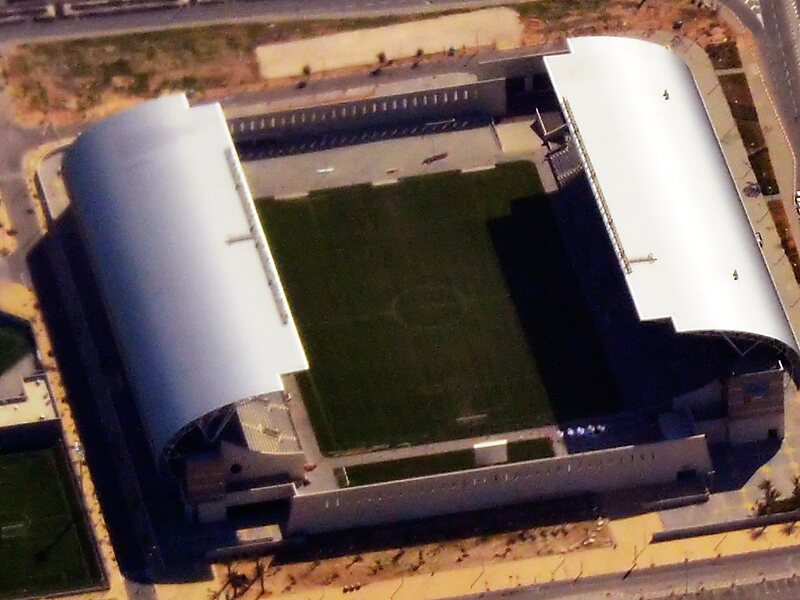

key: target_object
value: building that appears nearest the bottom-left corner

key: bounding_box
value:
[0,371,61,442]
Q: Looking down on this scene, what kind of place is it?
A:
sports ground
